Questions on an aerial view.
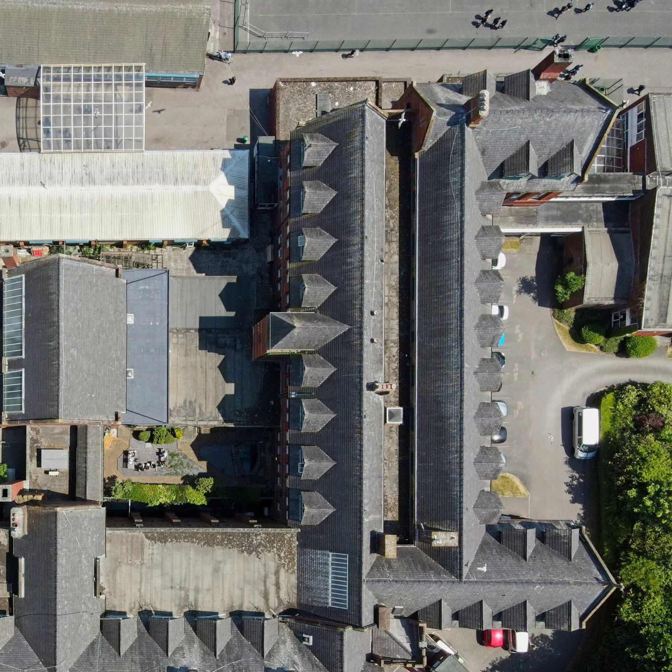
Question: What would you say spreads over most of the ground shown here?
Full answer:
The bulk of the photo consists of buildings.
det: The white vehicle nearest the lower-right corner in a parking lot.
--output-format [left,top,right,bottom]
[504,629,527,652]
